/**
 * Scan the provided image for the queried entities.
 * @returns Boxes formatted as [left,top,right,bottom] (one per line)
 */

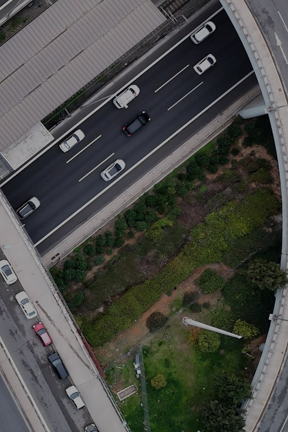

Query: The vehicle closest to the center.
[98,157,128,184]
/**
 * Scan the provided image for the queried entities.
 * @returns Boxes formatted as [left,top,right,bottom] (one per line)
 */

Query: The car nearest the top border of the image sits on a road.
[187,18,218,48]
